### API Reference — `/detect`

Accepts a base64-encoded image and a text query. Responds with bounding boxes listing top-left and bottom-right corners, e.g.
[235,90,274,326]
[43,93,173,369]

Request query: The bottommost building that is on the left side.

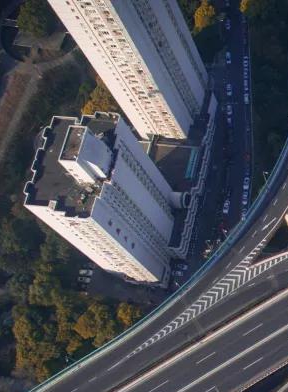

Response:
[24,112,176,278]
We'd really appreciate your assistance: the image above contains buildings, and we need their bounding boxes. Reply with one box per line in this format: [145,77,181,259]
[24,112,176,278]
[43,0,213,143]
